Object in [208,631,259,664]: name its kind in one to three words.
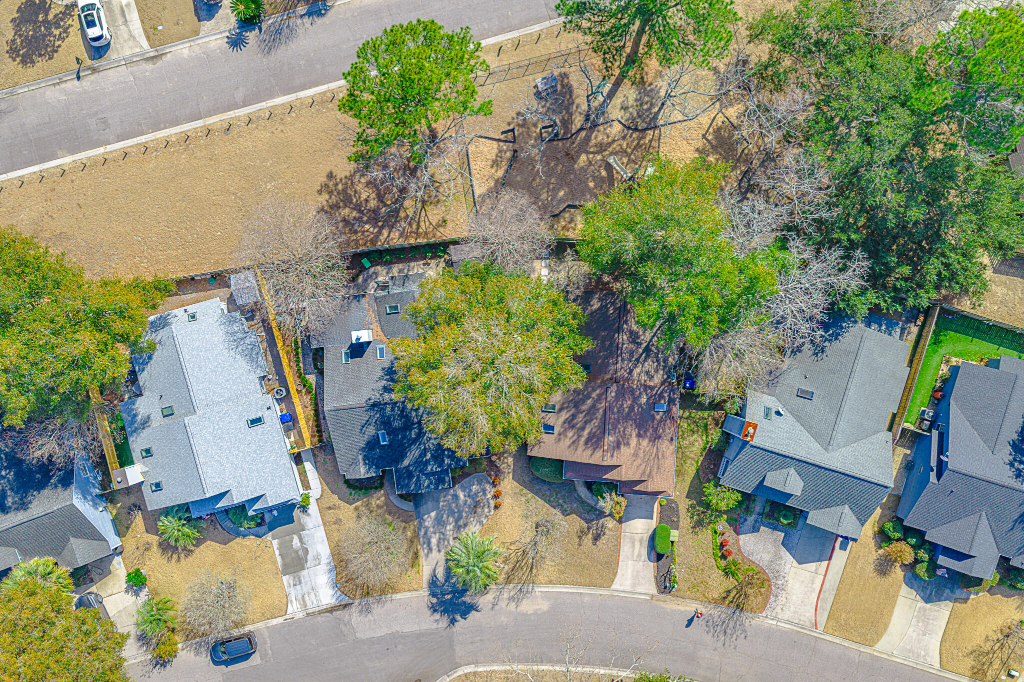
car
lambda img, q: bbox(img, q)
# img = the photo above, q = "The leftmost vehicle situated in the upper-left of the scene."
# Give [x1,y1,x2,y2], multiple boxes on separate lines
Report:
[78,0,113,44]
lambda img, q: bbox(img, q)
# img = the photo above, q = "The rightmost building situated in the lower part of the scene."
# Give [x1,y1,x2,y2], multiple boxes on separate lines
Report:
[895,355,1024,580]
